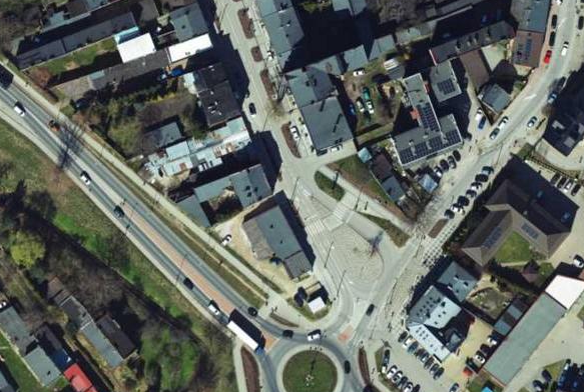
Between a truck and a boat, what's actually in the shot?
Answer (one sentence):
Looking from above, you can make out a truck.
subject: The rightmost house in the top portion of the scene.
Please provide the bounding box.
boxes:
[542,96,584,156]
